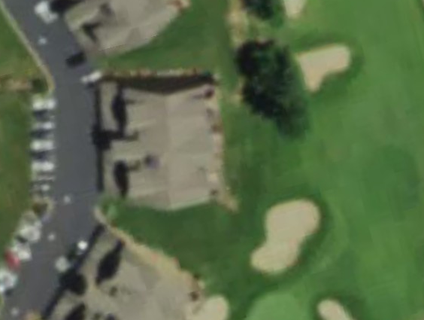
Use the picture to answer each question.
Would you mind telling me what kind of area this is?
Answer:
golf course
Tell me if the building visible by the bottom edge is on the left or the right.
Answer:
left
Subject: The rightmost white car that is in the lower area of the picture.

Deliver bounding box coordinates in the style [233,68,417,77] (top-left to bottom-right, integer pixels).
[78,238,90,255]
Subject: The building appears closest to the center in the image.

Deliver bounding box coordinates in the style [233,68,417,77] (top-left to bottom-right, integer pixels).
[95,64,222,196]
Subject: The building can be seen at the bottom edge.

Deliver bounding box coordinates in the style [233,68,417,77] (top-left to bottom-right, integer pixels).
[51,228,206,320]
